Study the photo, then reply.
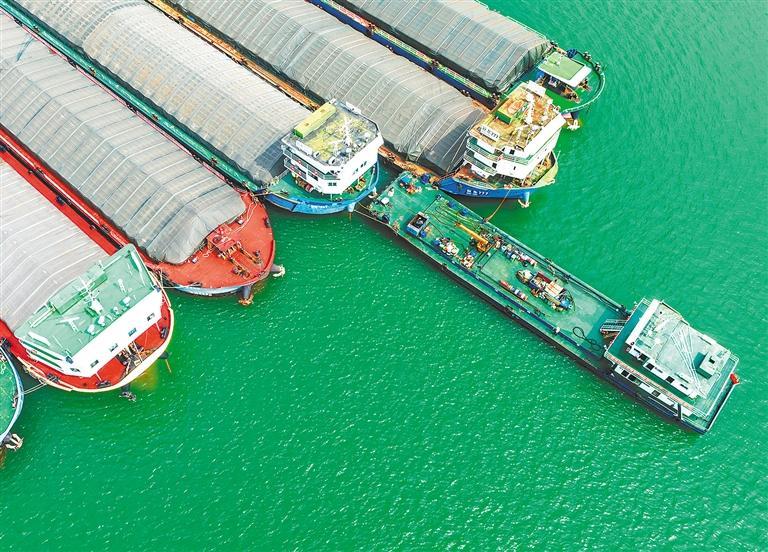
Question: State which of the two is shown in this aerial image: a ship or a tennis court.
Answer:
ship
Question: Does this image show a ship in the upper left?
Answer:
Yes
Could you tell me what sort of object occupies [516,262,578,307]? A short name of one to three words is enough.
boat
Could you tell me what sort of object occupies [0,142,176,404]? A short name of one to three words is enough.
ship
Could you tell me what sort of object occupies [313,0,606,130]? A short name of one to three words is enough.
ship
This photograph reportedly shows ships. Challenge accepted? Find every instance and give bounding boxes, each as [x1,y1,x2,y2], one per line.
[154,0,568,207]
[0,142,176,404]
[0,335,30,454]
[0,9,282,302]
[0,0,381,220]
[364,172,742,434]
[313,0,606,130]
